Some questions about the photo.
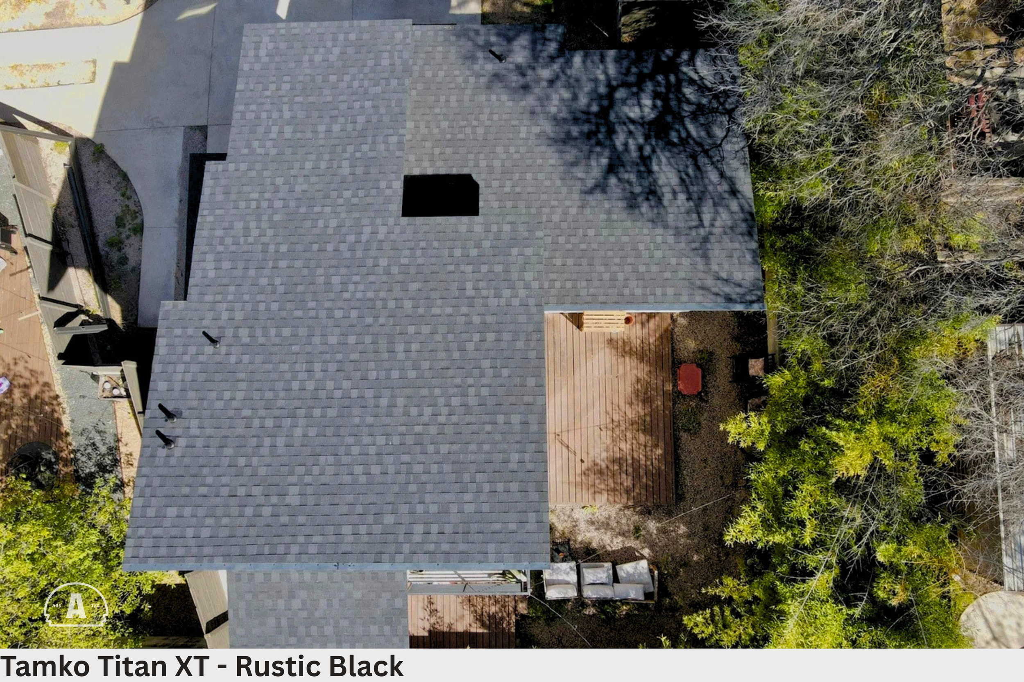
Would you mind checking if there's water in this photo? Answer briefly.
No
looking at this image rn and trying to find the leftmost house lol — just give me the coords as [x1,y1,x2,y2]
[122,18,766,682]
